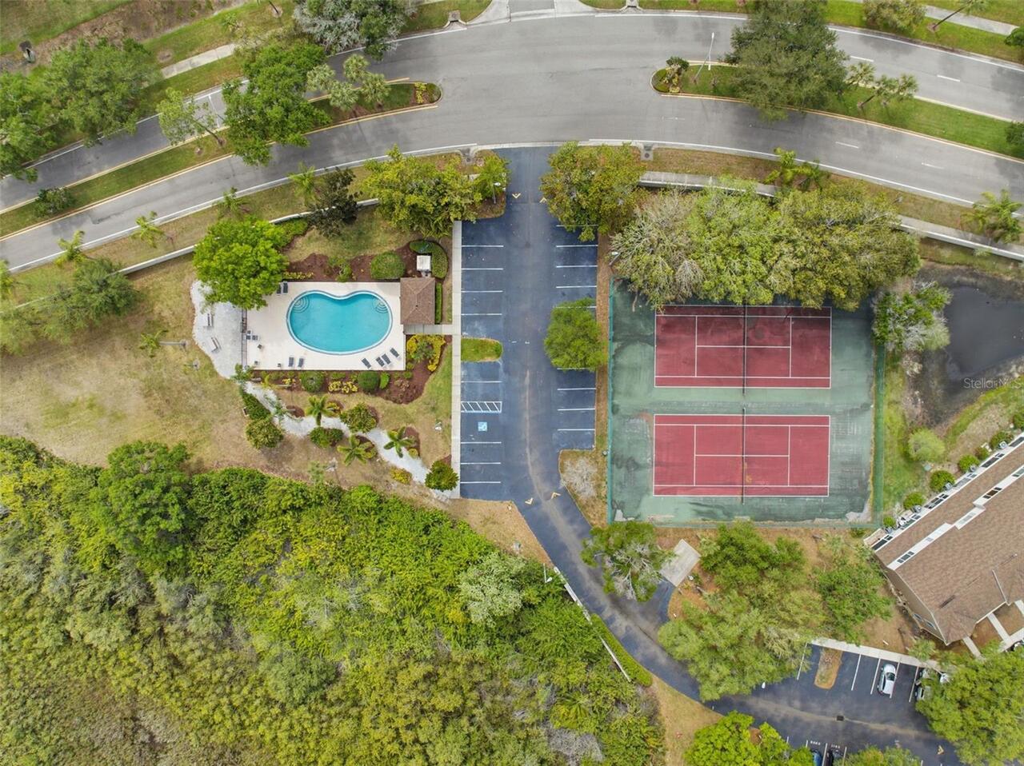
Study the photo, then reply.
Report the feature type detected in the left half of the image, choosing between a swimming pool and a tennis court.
swimming pool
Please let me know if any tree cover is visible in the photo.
Yes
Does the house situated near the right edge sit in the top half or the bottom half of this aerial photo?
bottom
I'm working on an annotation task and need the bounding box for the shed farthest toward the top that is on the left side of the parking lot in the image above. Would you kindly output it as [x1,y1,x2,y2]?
[400,277,435,325]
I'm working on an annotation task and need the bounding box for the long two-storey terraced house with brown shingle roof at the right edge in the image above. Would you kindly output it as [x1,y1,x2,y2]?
[872,434,1024,647]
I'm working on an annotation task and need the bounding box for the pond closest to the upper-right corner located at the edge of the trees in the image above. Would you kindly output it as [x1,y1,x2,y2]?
[939,282,1024,397]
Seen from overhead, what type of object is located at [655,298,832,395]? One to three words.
tennis court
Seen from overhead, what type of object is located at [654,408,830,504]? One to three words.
tennis court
